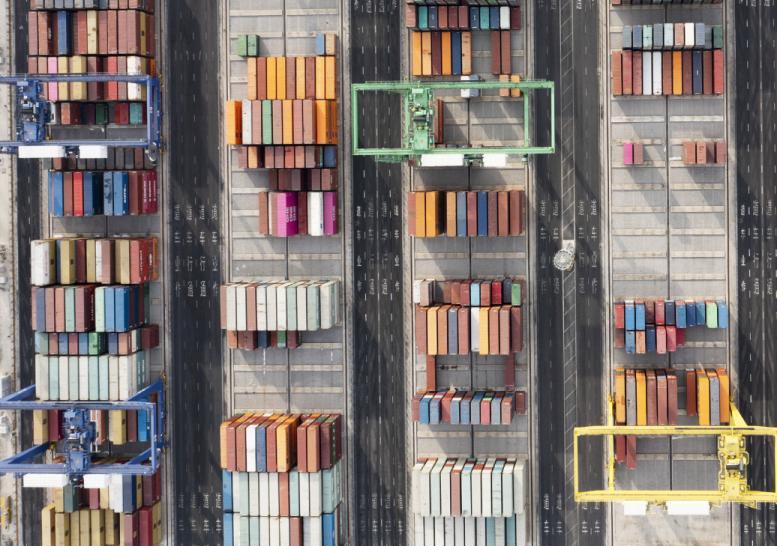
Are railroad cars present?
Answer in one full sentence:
No, no railroad car is visible in the scene.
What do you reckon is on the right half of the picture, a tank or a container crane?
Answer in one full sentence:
The one visible on the right half of the picture is a container crane.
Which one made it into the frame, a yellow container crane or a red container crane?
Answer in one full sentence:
Looking from above, you can make out a yellow container crane.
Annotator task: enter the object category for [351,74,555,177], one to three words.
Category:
container crane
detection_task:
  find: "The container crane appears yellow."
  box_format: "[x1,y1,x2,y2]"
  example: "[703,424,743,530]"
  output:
[574,384,777,516]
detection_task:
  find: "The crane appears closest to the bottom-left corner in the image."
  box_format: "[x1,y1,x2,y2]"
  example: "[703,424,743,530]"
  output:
[0,360,166,486]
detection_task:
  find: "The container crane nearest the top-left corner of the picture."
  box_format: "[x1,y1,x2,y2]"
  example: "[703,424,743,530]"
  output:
[0,68,166,170]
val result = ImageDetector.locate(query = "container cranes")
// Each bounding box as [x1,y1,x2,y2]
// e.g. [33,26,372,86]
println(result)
[351,74,555,177]
[574,384,777,516]
[0,68,166,170]
[0,360,166,486]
